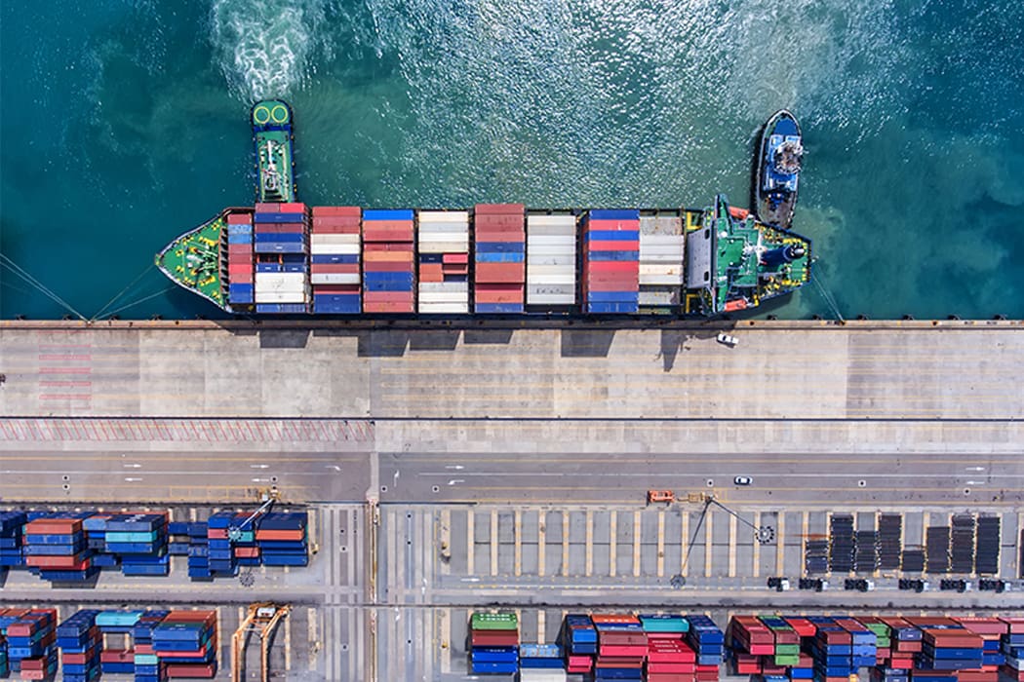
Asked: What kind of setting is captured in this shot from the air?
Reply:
port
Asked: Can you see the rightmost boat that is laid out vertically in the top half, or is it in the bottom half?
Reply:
top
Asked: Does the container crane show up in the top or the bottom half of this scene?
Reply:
bottom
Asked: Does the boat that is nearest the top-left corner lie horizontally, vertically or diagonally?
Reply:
vertically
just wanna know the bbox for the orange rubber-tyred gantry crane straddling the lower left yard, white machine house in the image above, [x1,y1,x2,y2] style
[231,606,288,682]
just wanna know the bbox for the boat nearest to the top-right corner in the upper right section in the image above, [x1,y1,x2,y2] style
[755,109,816,227]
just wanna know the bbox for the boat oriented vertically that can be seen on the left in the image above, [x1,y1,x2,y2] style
[251,99,296,206]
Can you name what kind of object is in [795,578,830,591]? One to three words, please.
vehicle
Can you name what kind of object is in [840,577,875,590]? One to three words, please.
vehicle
